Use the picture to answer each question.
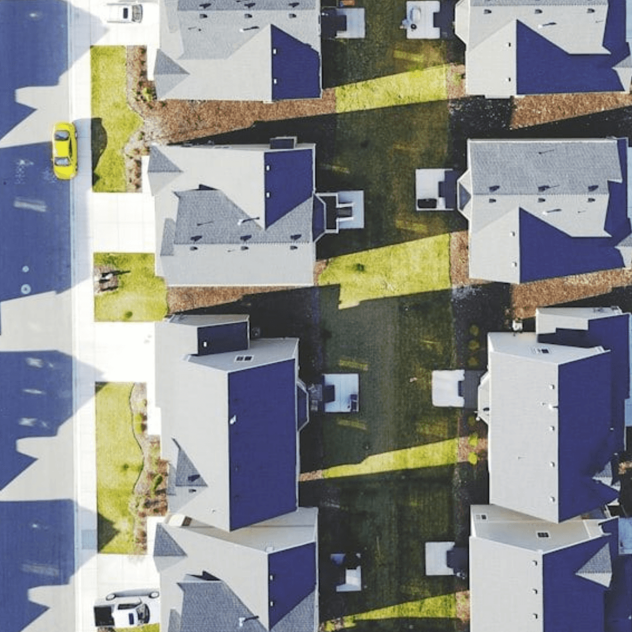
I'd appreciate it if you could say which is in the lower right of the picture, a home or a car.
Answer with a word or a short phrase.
home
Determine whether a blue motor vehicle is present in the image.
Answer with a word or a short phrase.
No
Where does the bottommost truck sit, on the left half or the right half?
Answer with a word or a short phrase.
left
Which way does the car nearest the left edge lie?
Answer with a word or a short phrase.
from top to bottom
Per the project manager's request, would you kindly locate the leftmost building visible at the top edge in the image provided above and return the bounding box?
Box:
[153,0,321,103]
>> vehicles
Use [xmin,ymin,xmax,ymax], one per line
[48,121,77,179]
[94,0,157,29]
[85,594,158,632]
